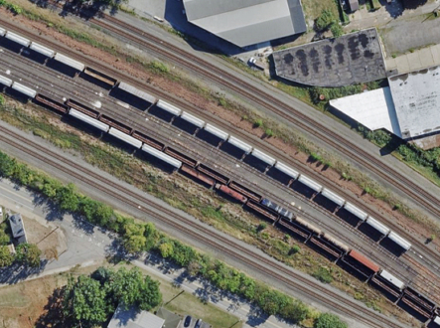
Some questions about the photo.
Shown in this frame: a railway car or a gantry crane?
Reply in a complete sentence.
There is a railway car in the scene.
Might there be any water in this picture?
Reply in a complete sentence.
No, there is no water in the image.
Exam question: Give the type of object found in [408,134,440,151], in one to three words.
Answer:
shed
